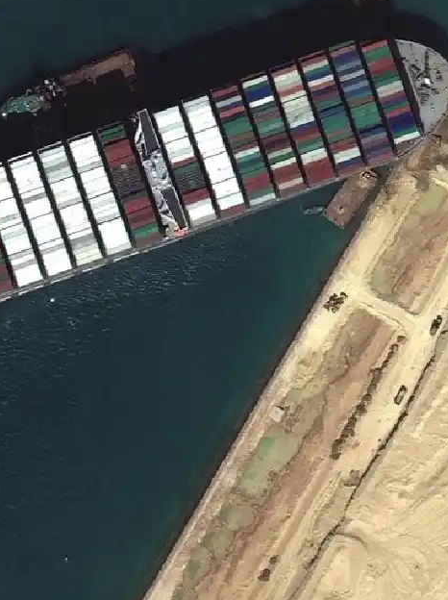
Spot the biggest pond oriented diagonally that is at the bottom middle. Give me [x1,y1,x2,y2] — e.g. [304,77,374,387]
[242,428,296,492]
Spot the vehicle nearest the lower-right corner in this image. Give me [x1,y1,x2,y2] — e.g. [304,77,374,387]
[394,385,407,404]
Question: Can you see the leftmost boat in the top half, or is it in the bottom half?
top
